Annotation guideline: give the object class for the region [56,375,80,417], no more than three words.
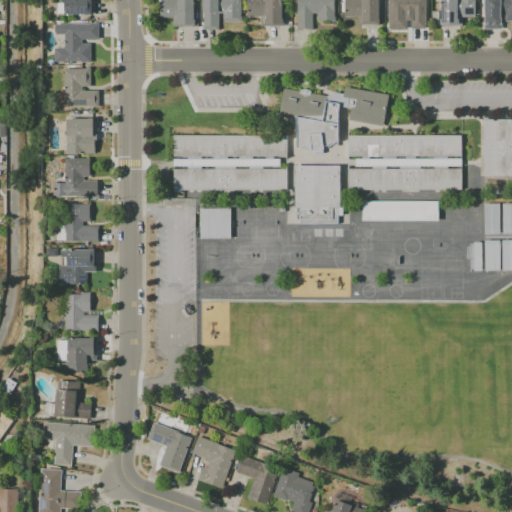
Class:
house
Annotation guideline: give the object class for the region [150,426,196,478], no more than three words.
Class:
house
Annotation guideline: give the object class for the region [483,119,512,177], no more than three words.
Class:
building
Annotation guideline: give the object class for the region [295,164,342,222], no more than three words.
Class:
building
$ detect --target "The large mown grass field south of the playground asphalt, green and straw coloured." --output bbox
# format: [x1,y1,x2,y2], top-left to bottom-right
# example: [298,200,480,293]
[201,286,512,470]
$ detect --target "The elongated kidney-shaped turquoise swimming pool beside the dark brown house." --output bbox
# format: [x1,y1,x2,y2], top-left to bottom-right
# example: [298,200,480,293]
[35,376,56,402]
